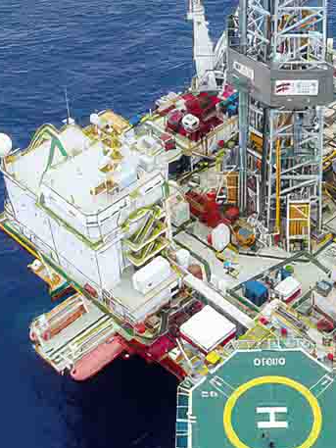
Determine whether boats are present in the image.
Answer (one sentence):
Yes, the photo shows a boat.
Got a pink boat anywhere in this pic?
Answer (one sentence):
Yes, you can see a pink boat in this photo.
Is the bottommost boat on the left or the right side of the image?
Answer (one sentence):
The bottommost boat is on the left side of the image.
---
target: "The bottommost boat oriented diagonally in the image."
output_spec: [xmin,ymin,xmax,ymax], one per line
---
[77,340,135,386]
